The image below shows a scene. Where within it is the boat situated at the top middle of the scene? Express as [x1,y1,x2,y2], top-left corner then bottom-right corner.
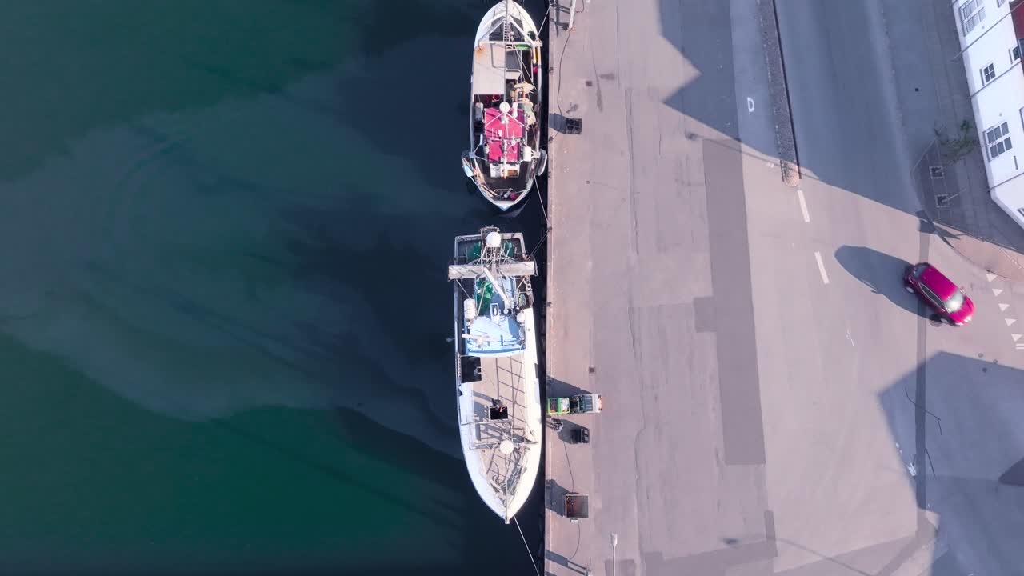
[461,0,548,211]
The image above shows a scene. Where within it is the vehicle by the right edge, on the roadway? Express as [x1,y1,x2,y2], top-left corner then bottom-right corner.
[903,262,976,327]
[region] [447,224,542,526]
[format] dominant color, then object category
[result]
white boat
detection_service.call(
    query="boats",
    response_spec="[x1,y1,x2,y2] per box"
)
[447,224,542,526]
[461,0,548,211]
